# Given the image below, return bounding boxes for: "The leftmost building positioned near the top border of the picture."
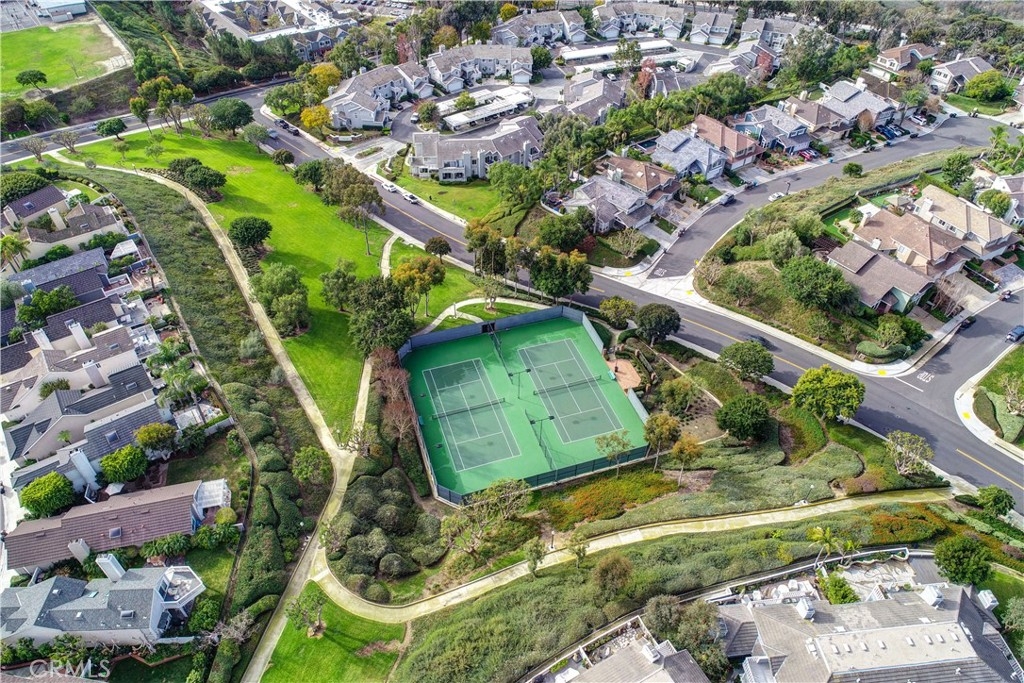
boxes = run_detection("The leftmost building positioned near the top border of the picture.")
[39,0,90,28]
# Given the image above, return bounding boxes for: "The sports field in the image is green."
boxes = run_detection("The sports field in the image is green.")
[0,21,131,104]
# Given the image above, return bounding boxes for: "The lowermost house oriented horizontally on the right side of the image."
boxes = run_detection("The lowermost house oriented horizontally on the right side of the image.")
[576,628,704,683]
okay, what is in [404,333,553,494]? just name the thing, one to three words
tennis court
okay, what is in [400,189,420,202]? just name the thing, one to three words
vehicle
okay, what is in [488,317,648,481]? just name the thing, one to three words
tennis court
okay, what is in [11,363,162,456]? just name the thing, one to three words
house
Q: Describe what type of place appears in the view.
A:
residential area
